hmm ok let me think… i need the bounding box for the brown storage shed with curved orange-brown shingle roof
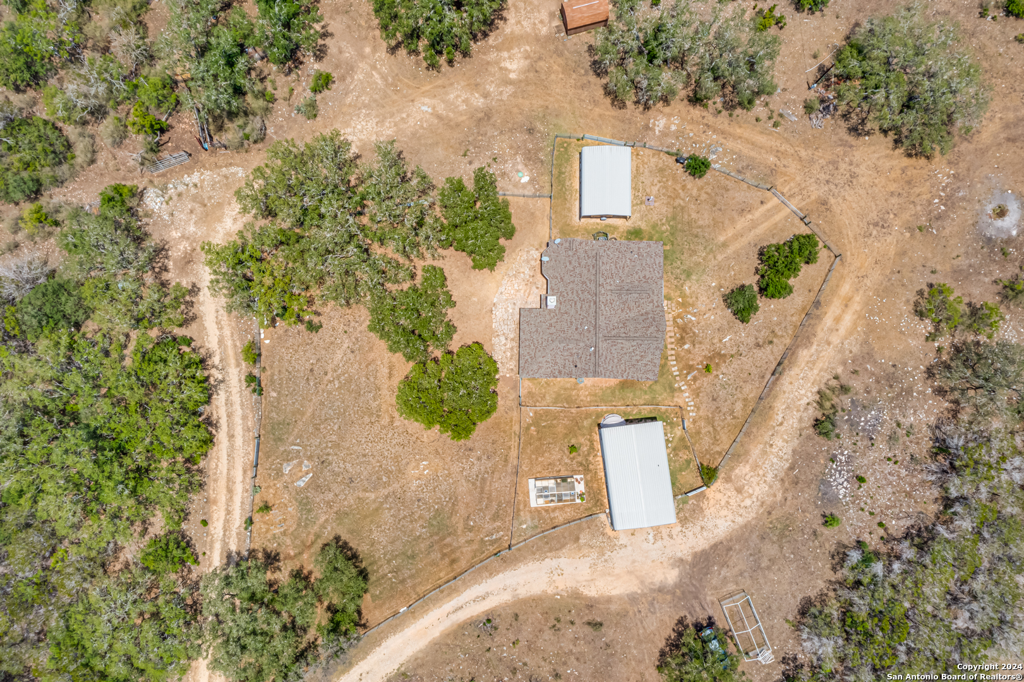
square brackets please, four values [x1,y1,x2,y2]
[560,0,609,36]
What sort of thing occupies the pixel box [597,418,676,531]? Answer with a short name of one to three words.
barn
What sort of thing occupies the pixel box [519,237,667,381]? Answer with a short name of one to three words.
house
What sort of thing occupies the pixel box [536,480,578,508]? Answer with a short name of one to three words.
greenhouse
